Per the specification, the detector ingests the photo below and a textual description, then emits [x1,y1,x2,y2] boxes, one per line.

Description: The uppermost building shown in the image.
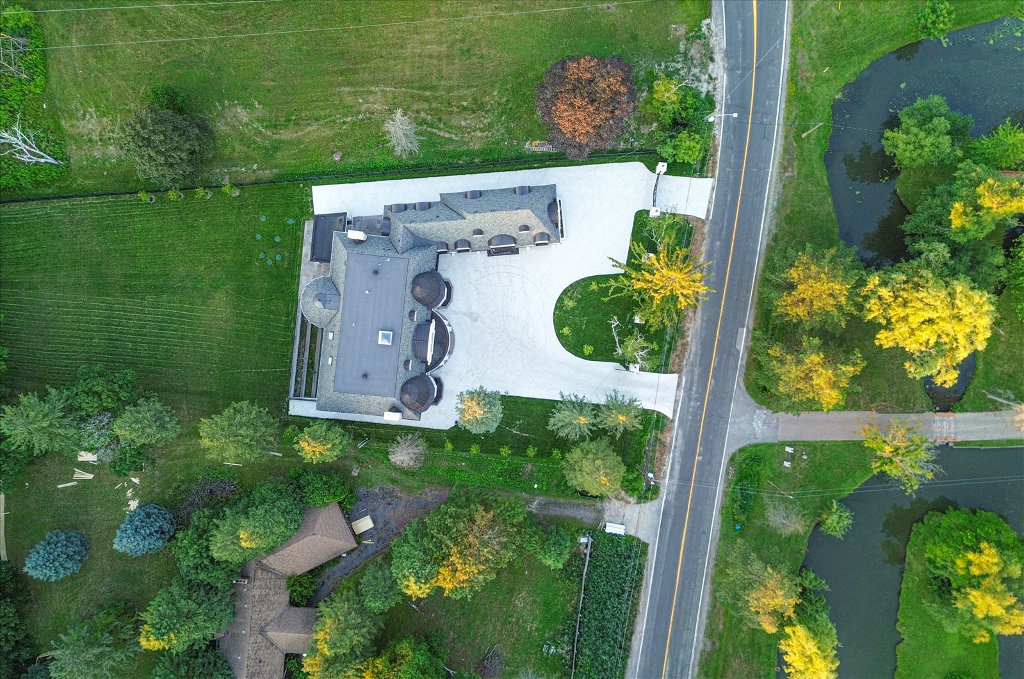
[300,184,567,420]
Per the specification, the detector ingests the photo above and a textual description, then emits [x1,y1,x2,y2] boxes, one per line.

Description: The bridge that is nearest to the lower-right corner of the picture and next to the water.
[933,413,957,446]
